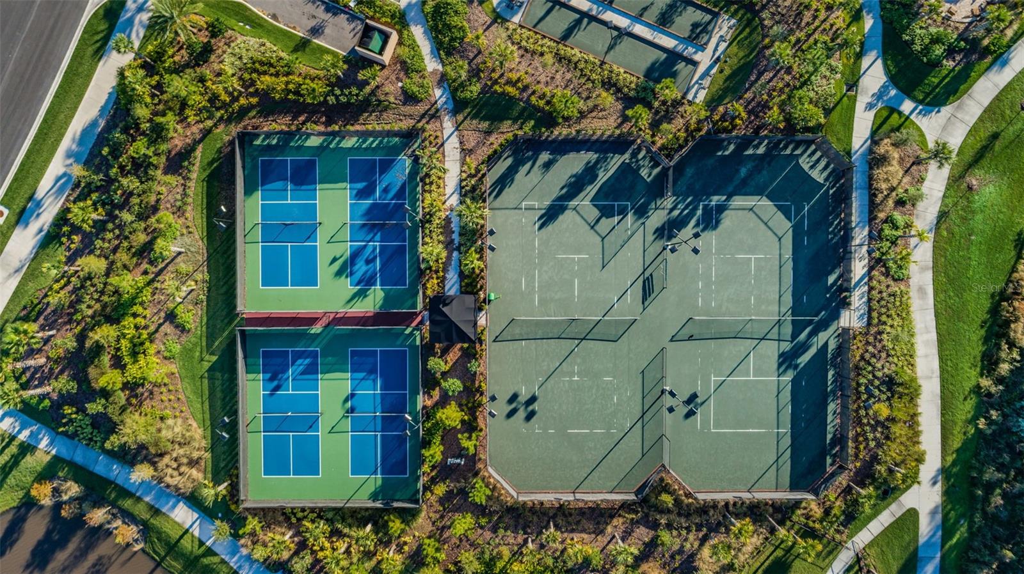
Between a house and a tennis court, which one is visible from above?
tennis court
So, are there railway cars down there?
No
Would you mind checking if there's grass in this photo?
Yes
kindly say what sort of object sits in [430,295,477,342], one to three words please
tent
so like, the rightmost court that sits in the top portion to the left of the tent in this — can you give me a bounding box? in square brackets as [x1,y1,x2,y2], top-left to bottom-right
[333,139,420,311]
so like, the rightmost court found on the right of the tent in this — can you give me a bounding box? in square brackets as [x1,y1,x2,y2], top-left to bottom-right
[664,142,840,492]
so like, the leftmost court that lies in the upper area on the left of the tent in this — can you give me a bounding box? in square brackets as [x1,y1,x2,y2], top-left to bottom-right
[244,139,334,311]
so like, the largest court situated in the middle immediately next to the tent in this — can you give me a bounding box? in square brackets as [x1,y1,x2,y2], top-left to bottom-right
[489,141,665,493]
